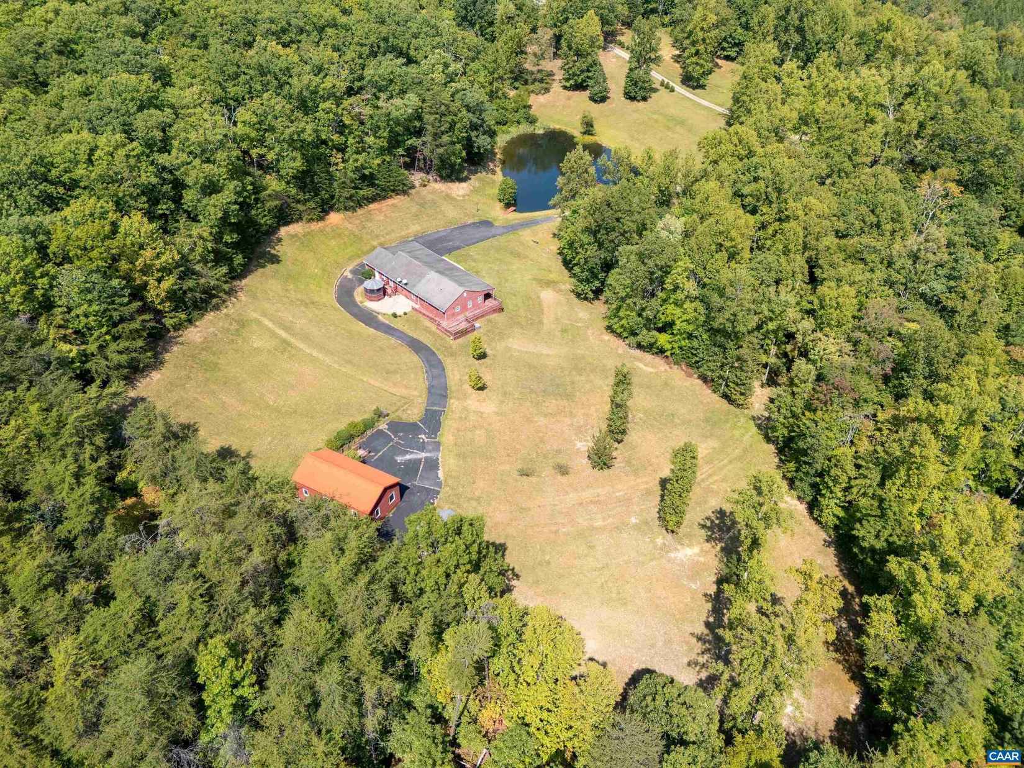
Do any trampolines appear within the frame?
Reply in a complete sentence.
No, there isn't any trampoline down there.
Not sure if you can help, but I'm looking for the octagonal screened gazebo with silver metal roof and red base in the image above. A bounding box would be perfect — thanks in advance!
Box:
[361,279,382,301]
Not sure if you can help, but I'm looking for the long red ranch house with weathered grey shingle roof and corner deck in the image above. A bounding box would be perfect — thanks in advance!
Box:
[363,241,495,322]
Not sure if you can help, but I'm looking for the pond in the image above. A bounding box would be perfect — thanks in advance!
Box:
[495,130,627,215]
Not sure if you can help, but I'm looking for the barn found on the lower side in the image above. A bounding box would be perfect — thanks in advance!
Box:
[293,448,401,522]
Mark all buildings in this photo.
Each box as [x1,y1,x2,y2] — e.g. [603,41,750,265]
[293,448,401,522]
[363,241,495,322]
